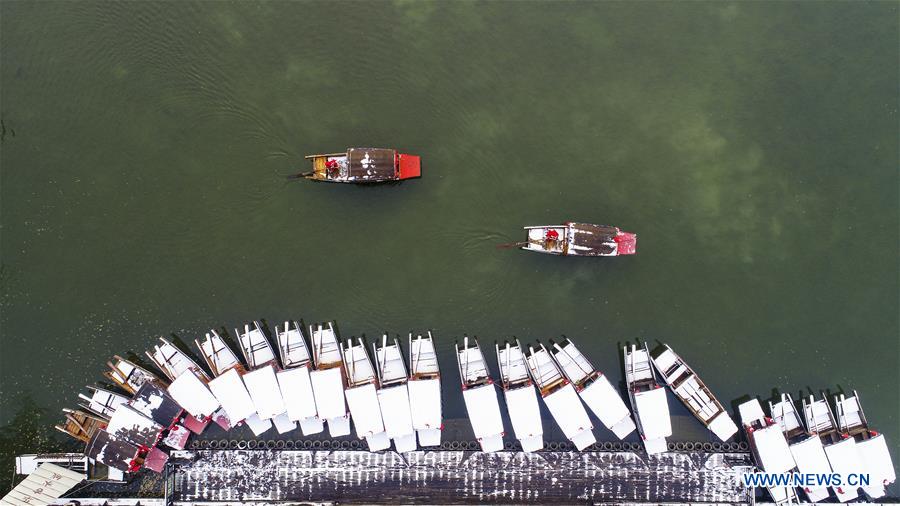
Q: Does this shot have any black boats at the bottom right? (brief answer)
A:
No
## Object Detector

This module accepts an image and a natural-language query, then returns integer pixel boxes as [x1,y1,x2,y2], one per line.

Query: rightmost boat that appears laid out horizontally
[523,225,637,257]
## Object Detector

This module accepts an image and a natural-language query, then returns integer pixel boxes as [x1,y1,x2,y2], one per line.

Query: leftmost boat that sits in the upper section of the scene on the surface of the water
[305,149,419,182]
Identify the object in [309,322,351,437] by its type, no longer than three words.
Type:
boat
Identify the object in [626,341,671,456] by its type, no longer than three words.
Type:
boat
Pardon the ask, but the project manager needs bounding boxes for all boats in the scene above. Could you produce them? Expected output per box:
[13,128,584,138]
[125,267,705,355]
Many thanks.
[408,332,442,447]
[737,398,803,506]
[194,330,272,437]
[551,340,636,441]
[54,409,168,473]
[374,339,417,454]
[768,394,834,505]
[76,387,189,450]
[236,322,298,433]
[15,452,128,482]
[144,337,236,430]
[652,345,740,443]
[340,338,390,452]
[524,344,598,452]
[801,392,864,505]
[523,225,637,257]
[309,322,351,437]
[626,341,671,456]
[305,149,419,182]
[456,339,504,453]
[103,356,208,436]
[832,390,893,504]
[497,339,544,454]
[275,322,323,437]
